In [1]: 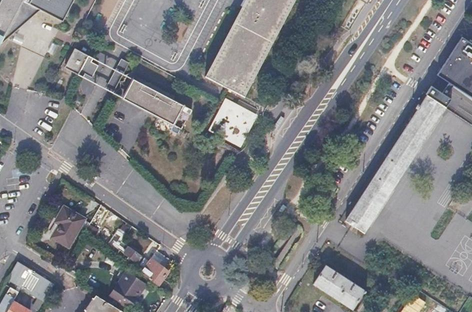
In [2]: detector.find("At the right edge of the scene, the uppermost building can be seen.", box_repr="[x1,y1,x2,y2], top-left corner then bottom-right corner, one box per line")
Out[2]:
[436,37,472,94]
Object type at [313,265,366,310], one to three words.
building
